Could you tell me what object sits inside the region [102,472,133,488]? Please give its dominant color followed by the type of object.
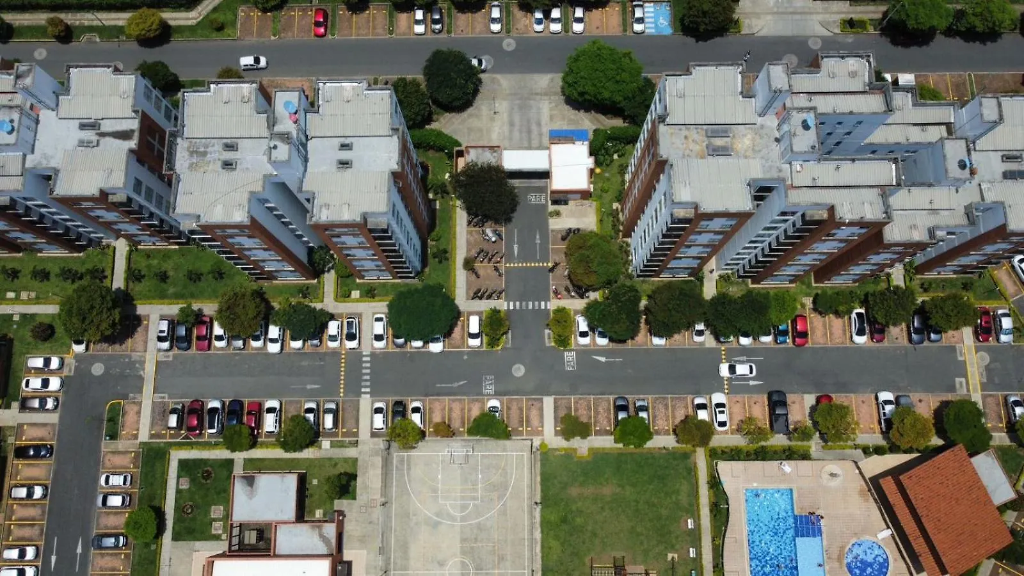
white car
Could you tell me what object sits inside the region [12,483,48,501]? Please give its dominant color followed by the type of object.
white car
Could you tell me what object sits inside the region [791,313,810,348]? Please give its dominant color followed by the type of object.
red car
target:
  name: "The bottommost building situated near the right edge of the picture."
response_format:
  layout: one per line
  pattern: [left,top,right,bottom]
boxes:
[869,445,1013,576]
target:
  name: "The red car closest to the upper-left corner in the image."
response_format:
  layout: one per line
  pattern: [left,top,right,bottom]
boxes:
[313,10,328,37]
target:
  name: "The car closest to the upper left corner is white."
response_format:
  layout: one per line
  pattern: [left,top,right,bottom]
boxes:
[240,55,268,71]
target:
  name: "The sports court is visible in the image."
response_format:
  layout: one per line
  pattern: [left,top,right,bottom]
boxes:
[384,439,537,576]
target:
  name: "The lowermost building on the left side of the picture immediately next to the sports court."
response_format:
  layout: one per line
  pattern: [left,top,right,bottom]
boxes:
[204,473,353,576]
